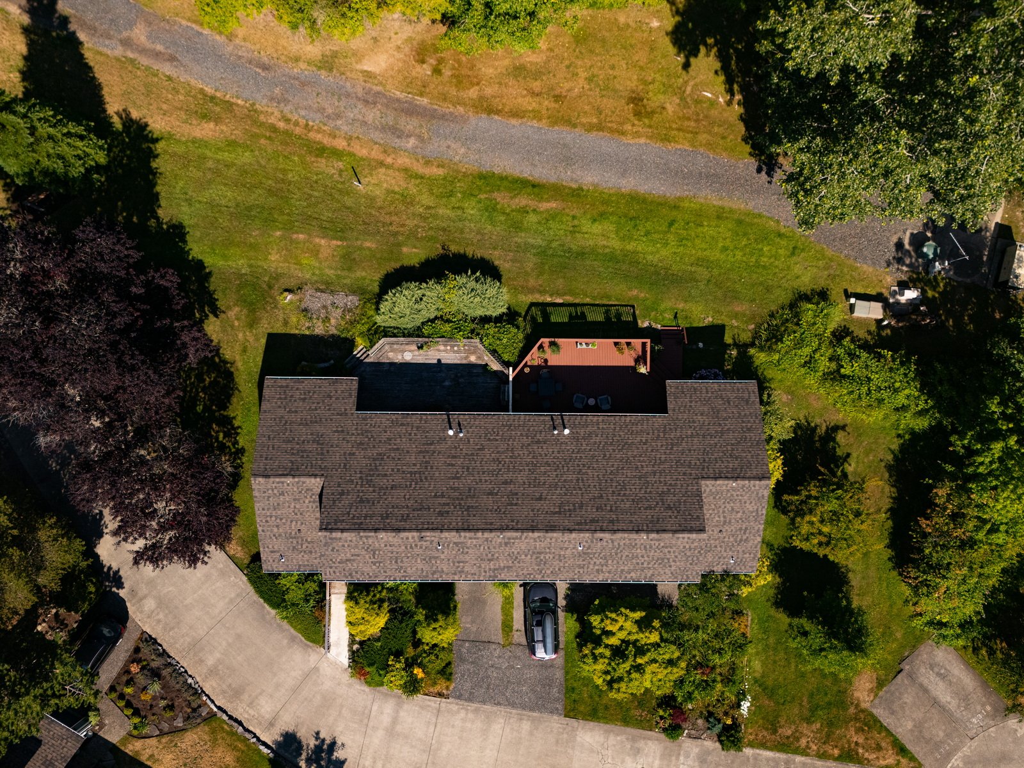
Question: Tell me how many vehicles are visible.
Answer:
2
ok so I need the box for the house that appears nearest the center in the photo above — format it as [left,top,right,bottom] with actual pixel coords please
[249,374,771,586]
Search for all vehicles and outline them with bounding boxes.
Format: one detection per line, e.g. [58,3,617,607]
[65,597,140,681]
[520,585,563,662]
